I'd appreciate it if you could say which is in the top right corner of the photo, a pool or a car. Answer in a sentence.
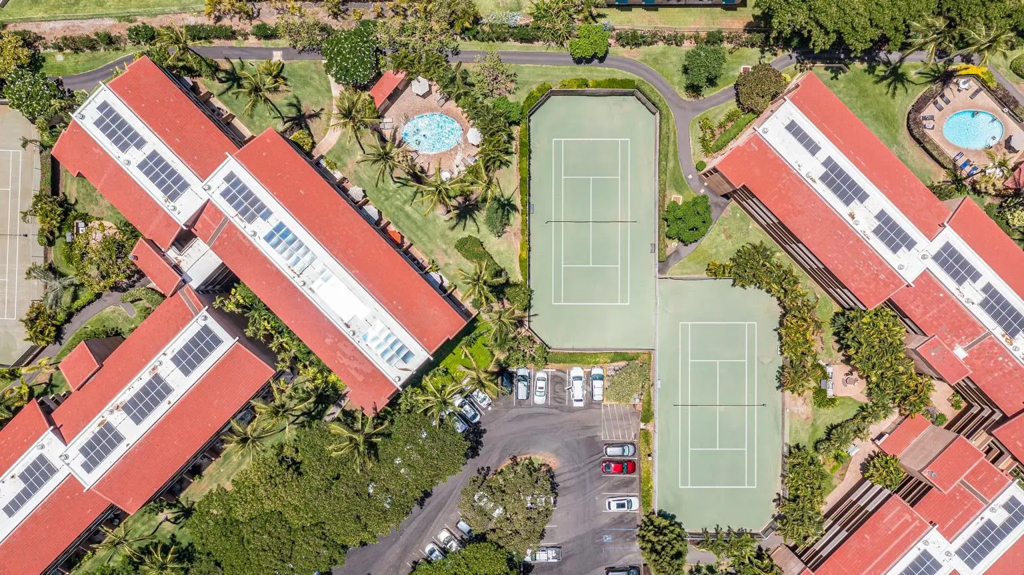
The feature located in the top right corner of the photo is a pool.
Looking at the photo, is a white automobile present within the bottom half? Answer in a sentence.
Yes, there is a white automobile within the bottom half.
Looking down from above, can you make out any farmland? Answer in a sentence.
No, the picture contains no farmland.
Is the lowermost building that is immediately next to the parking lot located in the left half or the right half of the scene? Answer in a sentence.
The lowermost building that is immediately next to the parking lot sits on the right side.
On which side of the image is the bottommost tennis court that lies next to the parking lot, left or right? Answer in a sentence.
You can find the bottommost tennis court that lies next to the parking lot on the right side of the picture.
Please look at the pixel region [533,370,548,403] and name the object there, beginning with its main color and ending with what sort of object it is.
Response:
white car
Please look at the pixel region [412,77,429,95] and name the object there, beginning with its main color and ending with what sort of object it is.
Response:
white umbrella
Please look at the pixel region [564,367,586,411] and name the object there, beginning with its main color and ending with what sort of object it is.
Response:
white car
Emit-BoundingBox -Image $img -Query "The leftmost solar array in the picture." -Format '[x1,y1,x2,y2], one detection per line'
[2,452,58,518]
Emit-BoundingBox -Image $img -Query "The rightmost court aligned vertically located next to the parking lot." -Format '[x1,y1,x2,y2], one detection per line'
[658,278,781,532]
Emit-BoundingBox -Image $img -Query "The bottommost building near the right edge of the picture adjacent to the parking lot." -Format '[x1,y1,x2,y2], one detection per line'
[769,457,1024,575]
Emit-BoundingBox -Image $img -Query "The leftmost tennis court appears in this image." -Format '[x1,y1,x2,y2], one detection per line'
[0,104,42,366]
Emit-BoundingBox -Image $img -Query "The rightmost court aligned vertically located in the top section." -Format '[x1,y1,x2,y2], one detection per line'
[530,95,654,350]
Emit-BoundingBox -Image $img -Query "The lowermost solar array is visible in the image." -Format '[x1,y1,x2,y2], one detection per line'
[899,548,943,575]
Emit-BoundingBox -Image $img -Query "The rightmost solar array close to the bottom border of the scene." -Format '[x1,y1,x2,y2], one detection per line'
[954,486,1024,570]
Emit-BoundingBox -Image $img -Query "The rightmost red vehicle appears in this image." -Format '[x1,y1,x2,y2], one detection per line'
[602,460,634,476]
